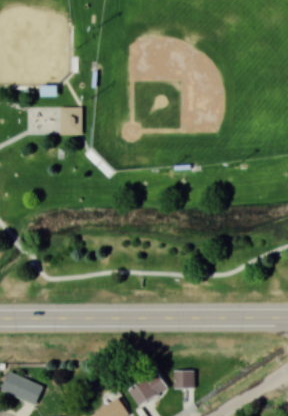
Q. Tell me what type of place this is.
sports ground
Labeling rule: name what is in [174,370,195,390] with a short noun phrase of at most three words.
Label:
building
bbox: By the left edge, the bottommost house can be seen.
[2,372,44,405]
